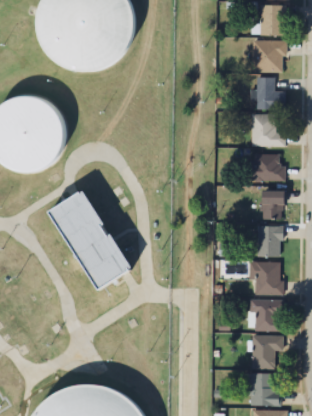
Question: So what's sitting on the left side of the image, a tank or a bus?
tank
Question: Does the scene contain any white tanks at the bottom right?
No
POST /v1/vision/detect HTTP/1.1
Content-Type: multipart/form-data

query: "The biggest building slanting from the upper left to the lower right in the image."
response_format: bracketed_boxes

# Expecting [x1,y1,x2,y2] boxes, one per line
[48,189,133,288]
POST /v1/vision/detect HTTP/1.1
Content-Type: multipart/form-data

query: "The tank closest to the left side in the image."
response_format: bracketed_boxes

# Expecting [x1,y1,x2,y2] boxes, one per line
[0,93,68,173]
